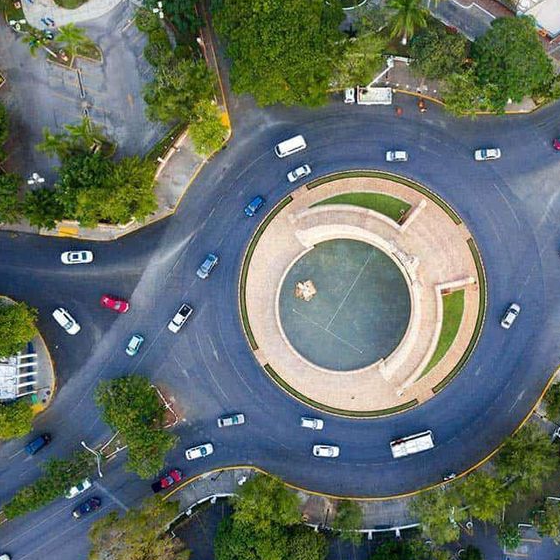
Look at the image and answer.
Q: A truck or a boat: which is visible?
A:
truck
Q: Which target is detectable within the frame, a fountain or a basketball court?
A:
fountain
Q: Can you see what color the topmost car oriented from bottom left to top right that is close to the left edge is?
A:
blue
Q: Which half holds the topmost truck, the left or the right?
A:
right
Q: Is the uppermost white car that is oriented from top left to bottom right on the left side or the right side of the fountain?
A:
left of it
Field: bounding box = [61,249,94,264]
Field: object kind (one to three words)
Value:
car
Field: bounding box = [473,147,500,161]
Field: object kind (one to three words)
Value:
vehicle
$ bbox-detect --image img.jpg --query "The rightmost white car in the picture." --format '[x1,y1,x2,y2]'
[500,301,519,330]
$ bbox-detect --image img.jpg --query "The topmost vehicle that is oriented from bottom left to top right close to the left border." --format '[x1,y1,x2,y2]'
[24,431,53,454]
